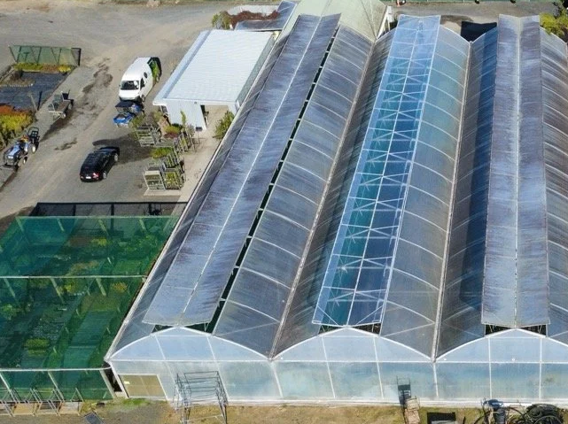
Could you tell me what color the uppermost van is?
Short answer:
white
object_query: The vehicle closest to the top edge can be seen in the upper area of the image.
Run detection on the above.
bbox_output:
[118,53,159,101]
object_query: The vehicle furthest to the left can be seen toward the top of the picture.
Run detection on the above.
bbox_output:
[0,128,34,173]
